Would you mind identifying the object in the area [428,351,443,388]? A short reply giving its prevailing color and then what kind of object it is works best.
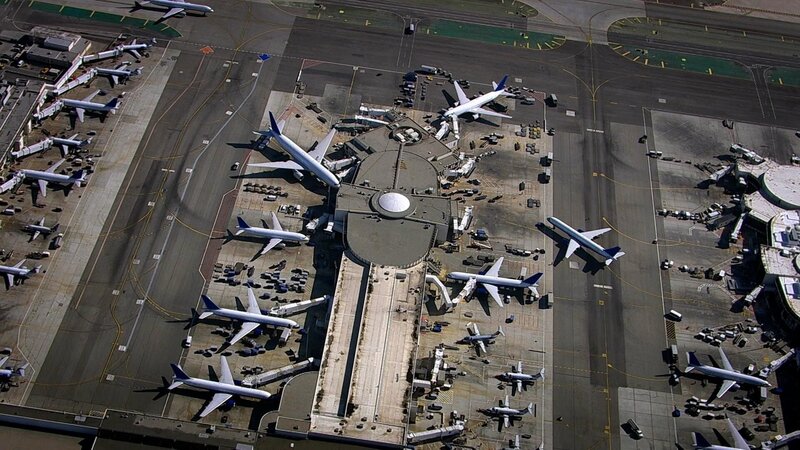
white jet bridge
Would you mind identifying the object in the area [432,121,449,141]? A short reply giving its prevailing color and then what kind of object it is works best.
white jet bridge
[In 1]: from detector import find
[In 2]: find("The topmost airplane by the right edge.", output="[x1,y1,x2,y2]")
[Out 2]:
[683,345,771,398]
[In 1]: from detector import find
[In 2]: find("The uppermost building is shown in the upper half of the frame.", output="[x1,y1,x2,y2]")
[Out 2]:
[0,20,94,175]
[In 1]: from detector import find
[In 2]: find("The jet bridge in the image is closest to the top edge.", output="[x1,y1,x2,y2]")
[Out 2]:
[79,48,121,69]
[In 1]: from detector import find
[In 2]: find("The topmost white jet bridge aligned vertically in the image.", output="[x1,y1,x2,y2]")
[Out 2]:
[448,113,462,141]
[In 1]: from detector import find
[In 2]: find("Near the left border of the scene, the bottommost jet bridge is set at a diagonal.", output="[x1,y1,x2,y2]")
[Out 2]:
[0,171,25,194]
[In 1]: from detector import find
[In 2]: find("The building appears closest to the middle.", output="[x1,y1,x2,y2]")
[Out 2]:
[259,116,461,450]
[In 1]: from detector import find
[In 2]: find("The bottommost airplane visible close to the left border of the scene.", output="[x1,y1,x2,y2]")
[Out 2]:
[0,354,27,378]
